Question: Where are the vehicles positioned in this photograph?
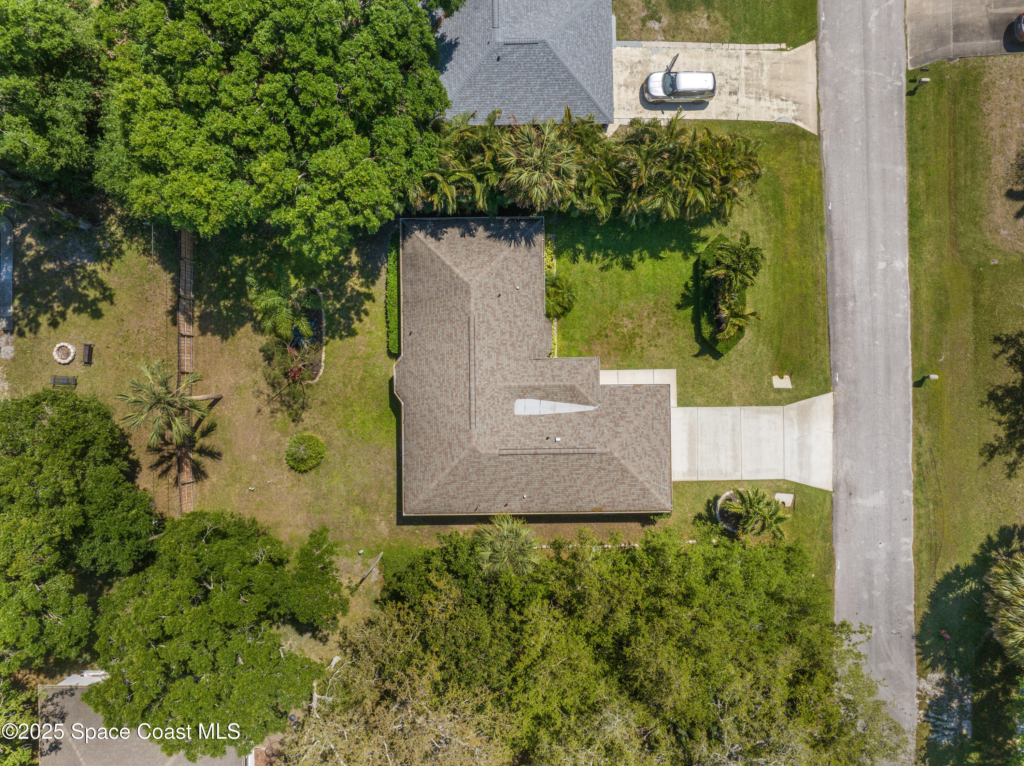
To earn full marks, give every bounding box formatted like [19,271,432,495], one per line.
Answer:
[642,55,717,106]
[1010,13,1024,48]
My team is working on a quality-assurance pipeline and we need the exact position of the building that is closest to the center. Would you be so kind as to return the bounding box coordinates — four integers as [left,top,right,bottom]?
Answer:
[392,214,673,517]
